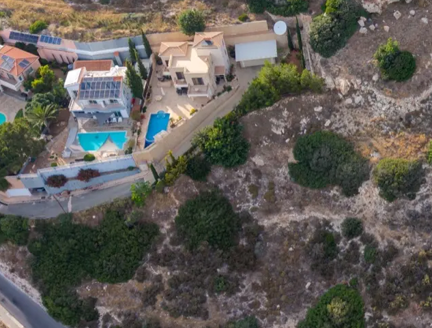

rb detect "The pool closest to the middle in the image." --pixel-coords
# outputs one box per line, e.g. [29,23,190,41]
[143,112,172,149]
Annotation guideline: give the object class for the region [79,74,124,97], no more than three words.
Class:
solar array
